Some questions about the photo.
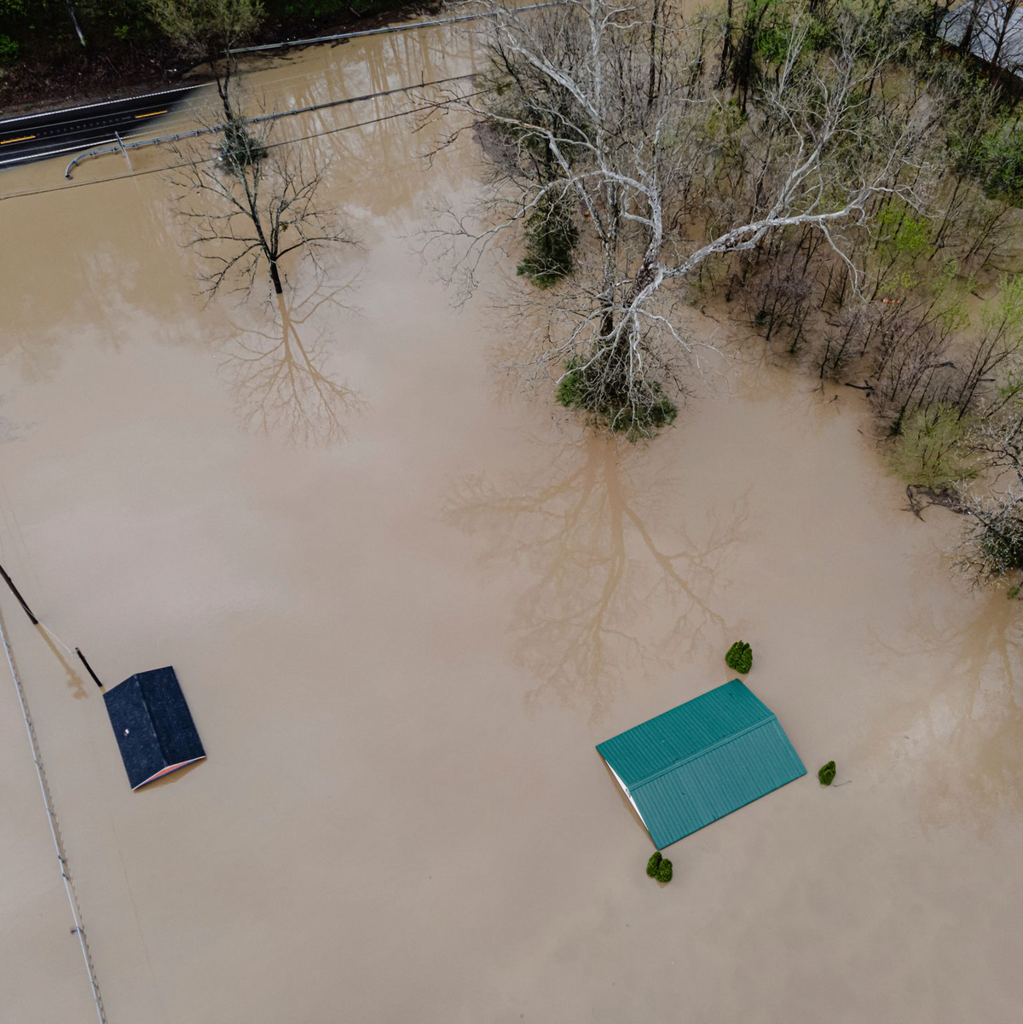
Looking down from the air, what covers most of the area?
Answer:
water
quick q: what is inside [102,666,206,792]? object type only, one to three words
shed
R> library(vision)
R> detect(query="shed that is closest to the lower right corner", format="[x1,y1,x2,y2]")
[596,679,807,851]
